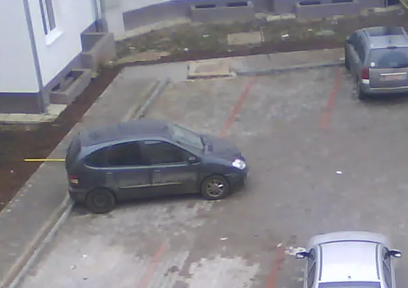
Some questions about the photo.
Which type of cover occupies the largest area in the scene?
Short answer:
paved ground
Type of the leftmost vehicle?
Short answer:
car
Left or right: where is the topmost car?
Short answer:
right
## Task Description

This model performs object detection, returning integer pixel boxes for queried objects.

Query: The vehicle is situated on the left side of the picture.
[70,125,240,213]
